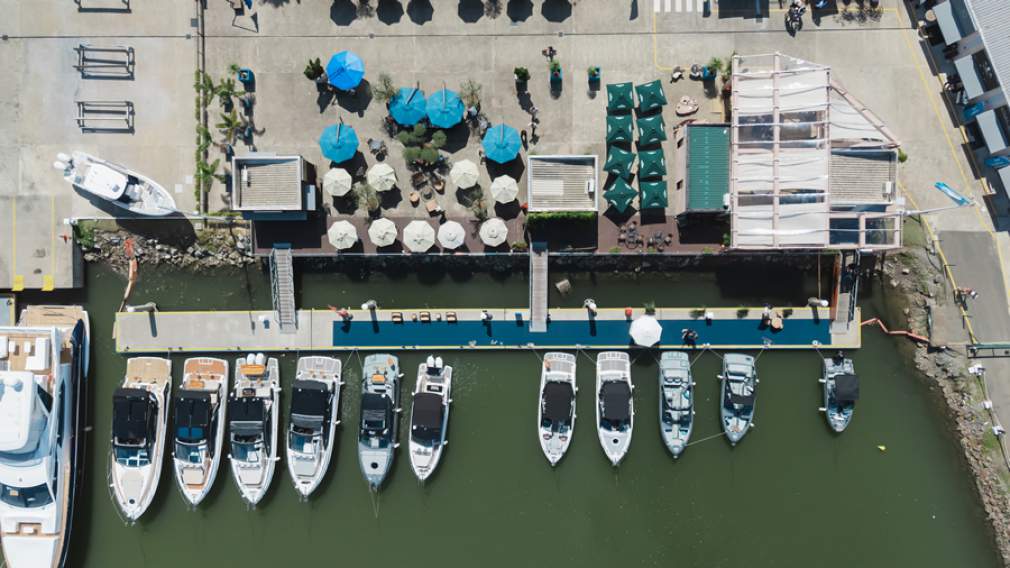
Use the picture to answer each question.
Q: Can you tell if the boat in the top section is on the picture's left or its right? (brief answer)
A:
left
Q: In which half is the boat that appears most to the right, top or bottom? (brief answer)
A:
bottom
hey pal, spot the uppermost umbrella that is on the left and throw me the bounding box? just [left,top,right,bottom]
[326,53,366,94]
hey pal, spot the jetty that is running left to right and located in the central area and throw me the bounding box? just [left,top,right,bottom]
[115,311,861,350]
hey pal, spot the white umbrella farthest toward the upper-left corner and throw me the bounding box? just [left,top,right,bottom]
[322,168,354,197]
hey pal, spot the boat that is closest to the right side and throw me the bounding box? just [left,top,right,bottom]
[816,352,861,435]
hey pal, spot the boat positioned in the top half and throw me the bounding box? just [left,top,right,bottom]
[51,149,181,215]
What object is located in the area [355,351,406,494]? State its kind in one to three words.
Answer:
boat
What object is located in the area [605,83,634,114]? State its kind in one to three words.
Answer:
tent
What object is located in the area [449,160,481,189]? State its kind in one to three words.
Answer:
umbrella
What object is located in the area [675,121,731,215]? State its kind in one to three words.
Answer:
building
